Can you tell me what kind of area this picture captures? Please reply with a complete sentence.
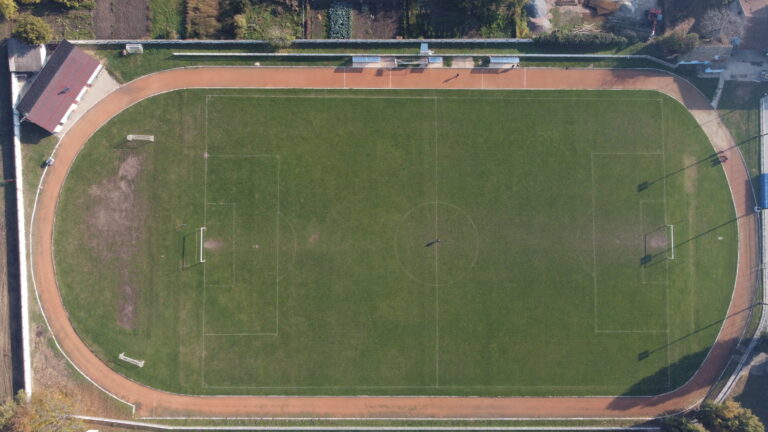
The picture captures a sports ground.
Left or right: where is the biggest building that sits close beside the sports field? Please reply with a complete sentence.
The biggest building that sits close beside the sports field sits on the left side.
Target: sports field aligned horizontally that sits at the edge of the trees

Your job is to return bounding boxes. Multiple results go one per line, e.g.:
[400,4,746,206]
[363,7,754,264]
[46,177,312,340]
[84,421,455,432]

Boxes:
[52,88,738,397]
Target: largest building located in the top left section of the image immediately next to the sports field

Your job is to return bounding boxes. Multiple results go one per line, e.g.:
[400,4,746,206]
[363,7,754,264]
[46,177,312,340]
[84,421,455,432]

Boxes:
[17,40,105,132]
